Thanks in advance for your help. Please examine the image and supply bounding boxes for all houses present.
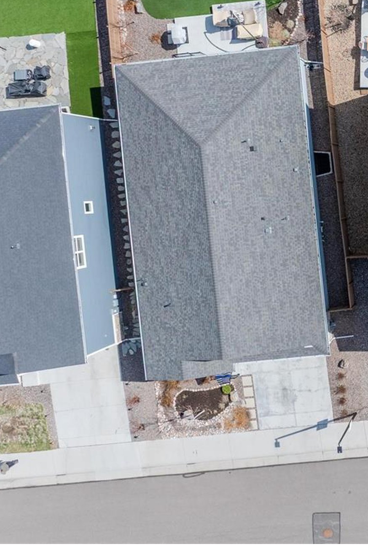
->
[0,103,135,386]
[113,45,354,381]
